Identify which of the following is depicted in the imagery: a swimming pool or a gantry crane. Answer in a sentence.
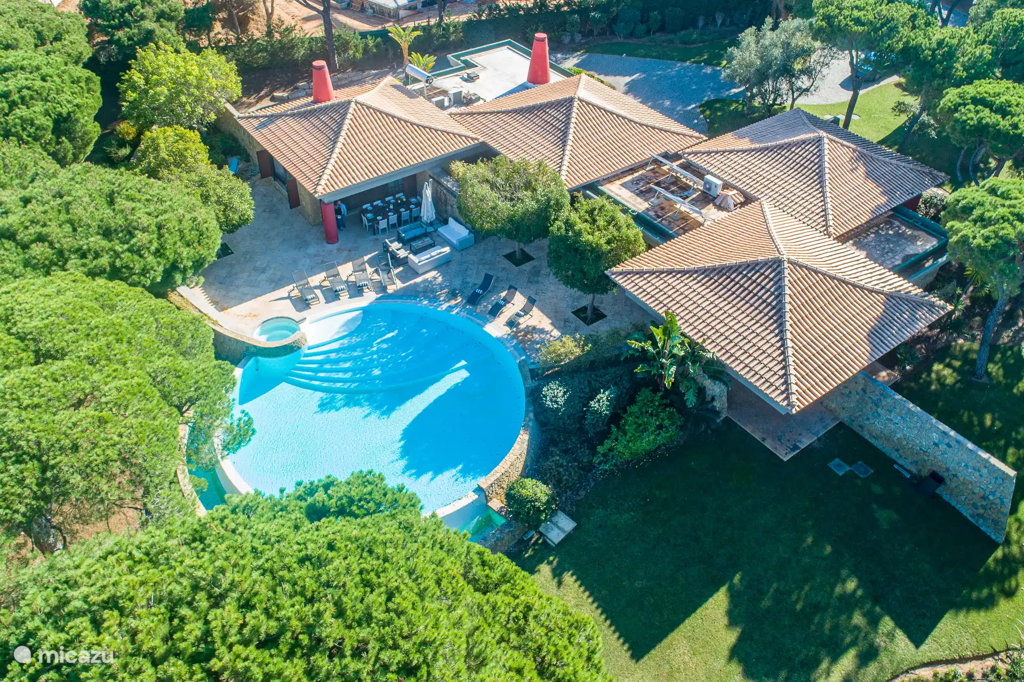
I can see a swimming pool in this picture.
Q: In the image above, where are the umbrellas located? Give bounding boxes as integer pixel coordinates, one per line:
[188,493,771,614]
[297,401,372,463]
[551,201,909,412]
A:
[422,179,442,225]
